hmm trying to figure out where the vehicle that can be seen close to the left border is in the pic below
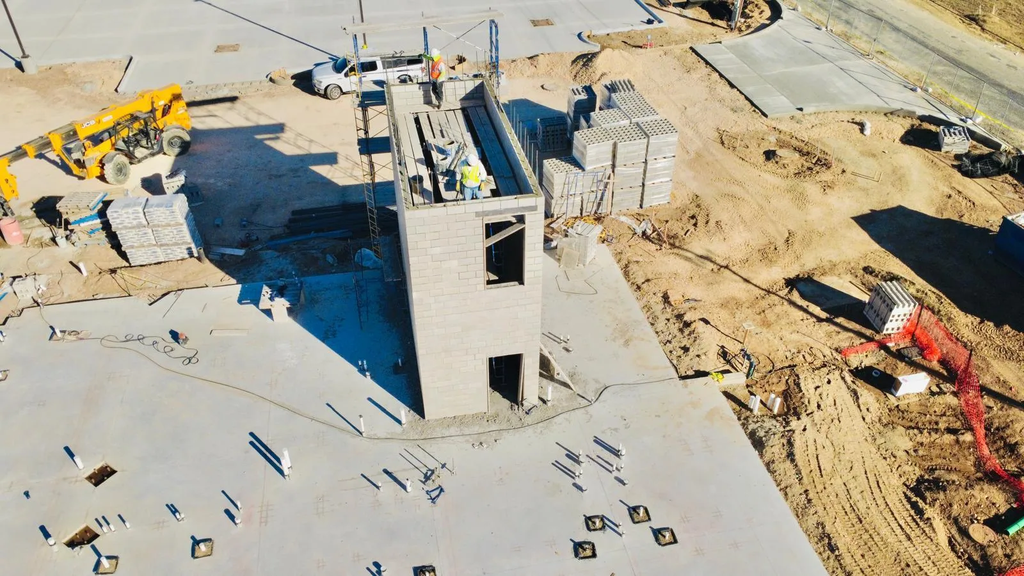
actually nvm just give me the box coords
[0,82,195,224]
